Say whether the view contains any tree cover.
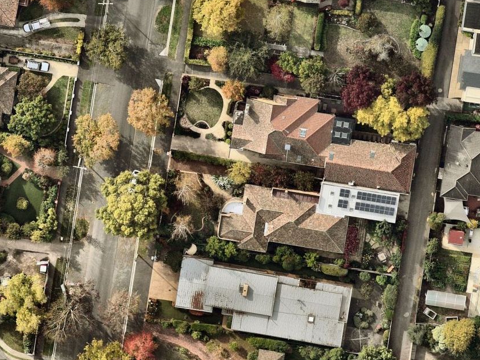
Yes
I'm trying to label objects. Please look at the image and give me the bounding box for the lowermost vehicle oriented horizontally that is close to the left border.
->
[24,59,51,72]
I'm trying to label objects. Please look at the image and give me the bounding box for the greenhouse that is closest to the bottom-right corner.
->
[425,289,466,308]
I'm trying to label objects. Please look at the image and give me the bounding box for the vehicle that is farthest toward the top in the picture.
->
[22,17,52,34]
